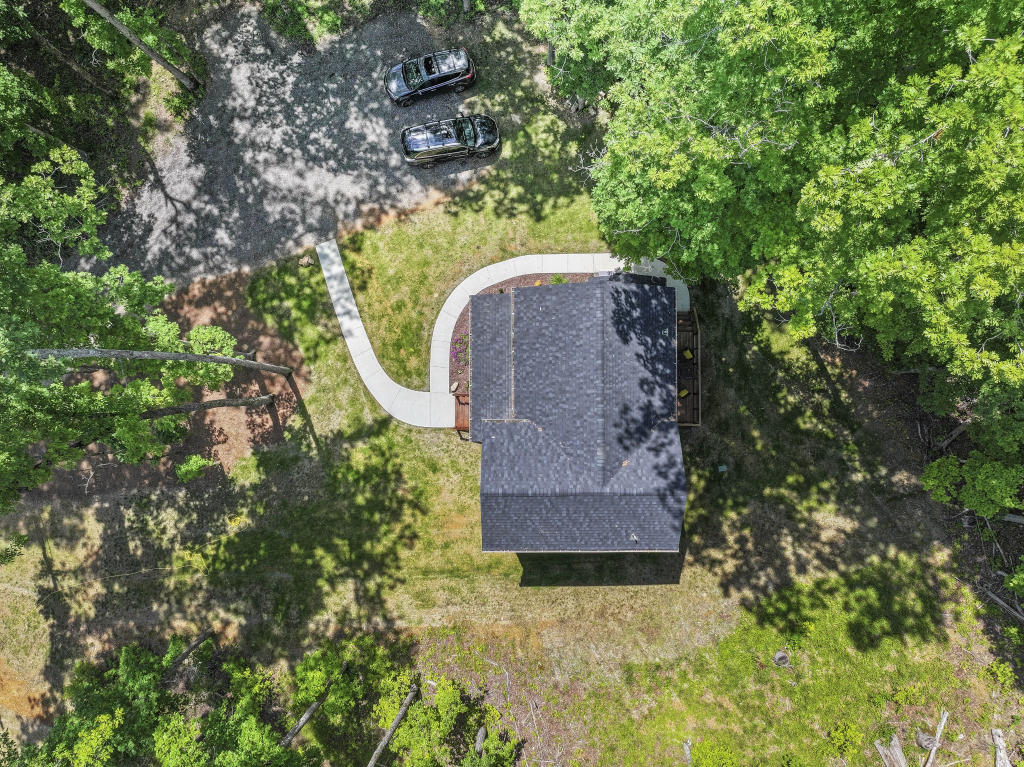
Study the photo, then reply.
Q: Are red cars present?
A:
No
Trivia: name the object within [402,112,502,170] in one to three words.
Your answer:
car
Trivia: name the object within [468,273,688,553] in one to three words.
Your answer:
house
